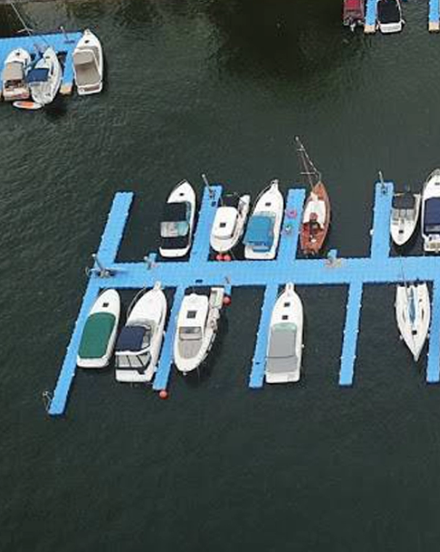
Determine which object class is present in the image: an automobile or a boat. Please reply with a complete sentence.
Looking from above, you can make out a boat.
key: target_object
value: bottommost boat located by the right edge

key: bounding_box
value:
[395,267,433,362]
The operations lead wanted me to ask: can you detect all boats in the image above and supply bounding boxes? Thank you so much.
[170,285,229,379]
[12,2,63,112]
[157,175,202,262]
[263,278,341,390]
[76,287,126,372]
[243,176,288,260]
[388,195,419,255]
[409,167,440,258]
[291,136,331,257]
[342,0,364,31]
[113,280,170,392]
[377,0,408,38]
[74,32,107,103]
[1,50,39,104]
[210,194,256,257]
[395,267,433,362]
